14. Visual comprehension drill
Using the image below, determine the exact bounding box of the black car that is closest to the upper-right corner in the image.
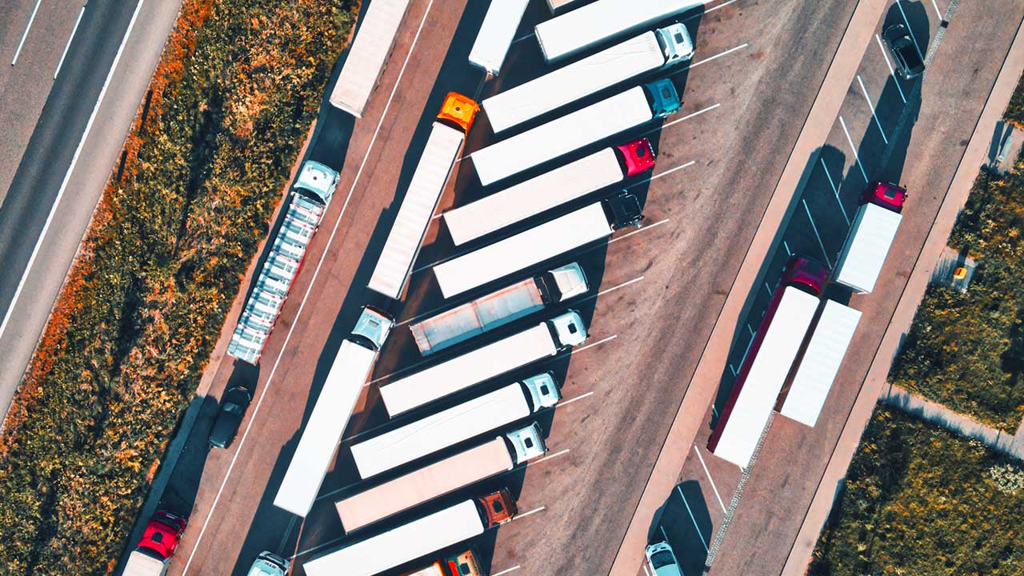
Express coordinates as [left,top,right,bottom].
[883,25,927,83]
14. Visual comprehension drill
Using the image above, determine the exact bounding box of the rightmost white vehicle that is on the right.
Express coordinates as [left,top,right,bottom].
[771,177,908,426]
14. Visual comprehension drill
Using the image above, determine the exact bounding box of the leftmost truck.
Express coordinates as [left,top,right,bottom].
[122,508,190,576]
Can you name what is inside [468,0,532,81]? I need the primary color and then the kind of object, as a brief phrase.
white truck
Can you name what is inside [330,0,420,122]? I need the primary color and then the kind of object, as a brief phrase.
white truck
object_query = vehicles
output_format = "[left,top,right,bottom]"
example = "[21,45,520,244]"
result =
[883,25,927,83]
[367,92,480,298]
[706,255,828,468]
[544,0,597,18]
[379,308,588,419]
[411,258,588,356]
[647,540,681,576]
[534,0,715,66]
[122,508,190,576]
[253,548,298,576]
[335,419,545,534]
[471,76,680,189]
[382,541,484,576]
[771,177,908,426]
[444,135,653,246]
[482,22,693,138]
[305,479,517,576]
[209,385,250,448]
[330,0,420,122]
[468,0,532,81]
[433,188,642,299]
[227,161,343,366]
[274,304,393,517]
[351,367,562,479]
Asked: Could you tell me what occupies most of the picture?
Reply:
paved ground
